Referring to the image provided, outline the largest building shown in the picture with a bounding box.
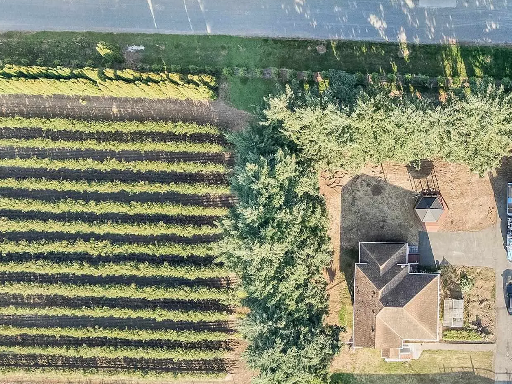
[350,241,440,362]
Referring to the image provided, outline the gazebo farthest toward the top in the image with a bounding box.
[414,196,447,233]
